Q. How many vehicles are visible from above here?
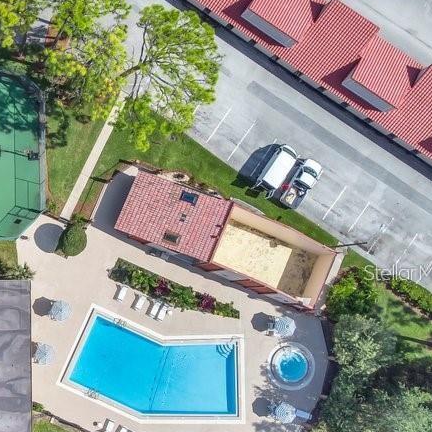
2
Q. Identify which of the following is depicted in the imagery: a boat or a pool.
pool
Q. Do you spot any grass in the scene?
Yes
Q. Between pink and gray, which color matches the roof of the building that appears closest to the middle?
pink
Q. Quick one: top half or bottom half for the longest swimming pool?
bottom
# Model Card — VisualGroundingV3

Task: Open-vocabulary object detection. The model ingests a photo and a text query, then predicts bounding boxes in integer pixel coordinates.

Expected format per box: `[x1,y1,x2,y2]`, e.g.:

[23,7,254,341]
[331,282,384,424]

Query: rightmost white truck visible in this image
[285,160,323,211]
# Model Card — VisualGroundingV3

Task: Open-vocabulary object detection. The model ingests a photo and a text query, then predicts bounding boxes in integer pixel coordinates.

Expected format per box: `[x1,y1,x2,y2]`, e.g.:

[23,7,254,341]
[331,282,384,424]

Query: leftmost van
[252,147,298,207]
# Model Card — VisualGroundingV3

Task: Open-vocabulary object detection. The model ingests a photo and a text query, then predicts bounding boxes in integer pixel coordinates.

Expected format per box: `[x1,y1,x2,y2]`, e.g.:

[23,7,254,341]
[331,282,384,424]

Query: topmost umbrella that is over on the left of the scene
[48,298,72,322]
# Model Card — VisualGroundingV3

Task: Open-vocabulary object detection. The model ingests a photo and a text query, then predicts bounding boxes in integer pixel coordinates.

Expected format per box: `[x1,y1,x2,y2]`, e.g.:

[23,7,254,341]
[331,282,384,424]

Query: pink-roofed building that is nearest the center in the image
[114,170,231,262]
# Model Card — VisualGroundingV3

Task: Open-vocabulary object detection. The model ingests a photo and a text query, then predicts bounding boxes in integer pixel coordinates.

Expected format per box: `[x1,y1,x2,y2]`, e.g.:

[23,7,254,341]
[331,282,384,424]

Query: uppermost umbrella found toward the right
[272,313,296,337]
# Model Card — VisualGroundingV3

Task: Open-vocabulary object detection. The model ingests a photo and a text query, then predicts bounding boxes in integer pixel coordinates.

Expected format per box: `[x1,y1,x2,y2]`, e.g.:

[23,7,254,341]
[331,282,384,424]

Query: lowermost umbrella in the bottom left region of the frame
[33,341,56,365]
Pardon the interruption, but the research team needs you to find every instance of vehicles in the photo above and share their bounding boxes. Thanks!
[252,147,298,207]
[285,160,323,211]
